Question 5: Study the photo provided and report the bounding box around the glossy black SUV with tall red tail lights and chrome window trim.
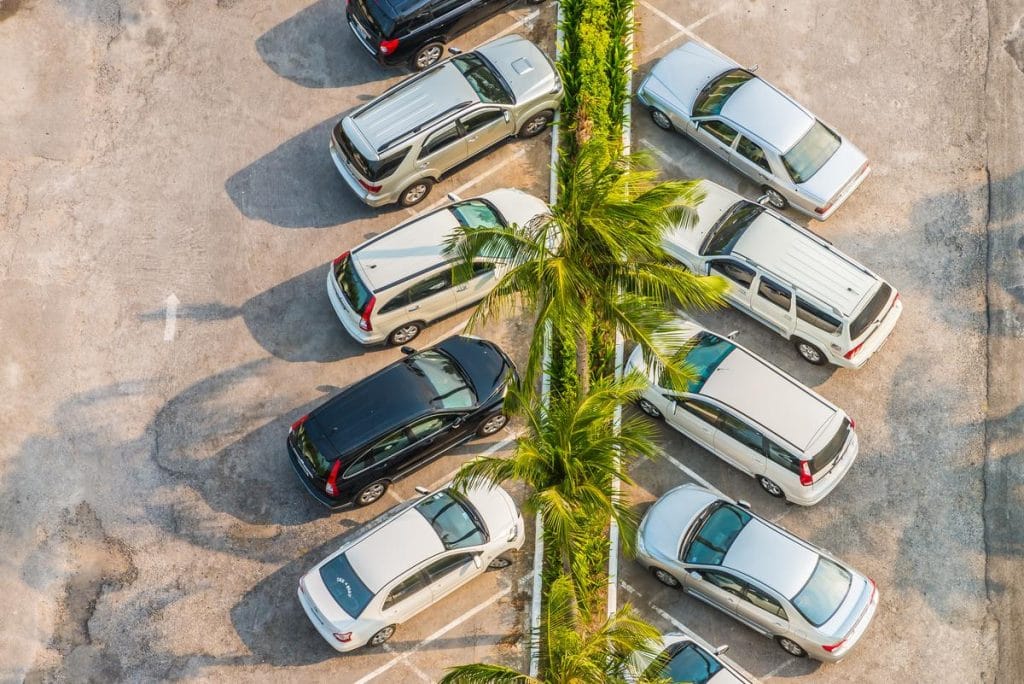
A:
[287,334,522,510]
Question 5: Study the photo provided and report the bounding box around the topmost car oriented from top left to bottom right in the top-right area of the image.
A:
[636,38,870,223]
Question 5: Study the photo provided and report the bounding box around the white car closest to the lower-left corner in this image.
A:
[294,473,529,654]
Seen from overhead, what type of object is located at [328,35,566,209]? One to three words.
car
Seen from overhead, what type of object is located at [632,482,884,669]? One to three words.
car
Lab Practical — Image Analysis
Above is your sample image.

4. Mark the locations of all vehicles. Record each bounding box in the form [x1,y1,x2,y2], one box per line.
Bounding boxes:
[342,0,548,76]
[636,38,870,223]
[662,188,900,375]
[322,180,550,350]
[622,637,757,684]
[624,324,858,507]
[294,473,529,654]
[328,35,566,209]
[287,334,522,510]
[632,482,884,669]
